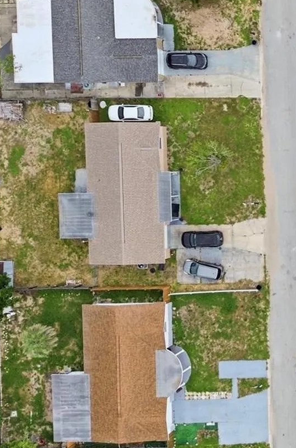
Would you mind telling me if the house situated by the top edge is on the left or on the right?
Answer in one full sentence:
It is on the left.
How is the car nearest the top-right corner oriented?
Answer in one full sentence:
I'd say the car nearest the top-right corner is aligned from side to side in the picture.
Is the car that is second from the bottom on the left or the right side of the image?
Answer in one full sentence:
It is on the right.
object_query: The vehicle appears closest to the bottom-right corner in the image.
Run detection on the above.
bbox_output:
[184,257,227,281]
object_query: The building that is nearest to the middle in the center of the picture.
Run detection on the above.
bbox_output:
[58,121,190,266]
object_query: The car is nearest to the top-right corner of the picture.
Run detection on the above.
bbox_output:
[166,50,210,70]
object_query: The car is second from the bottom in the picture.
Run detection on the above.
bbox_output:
[183,230,225,249]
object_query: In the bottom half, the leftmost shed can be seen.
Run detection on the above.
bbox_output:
[0,260,24,286]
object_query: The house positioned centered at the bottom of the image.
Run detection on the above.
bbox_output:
[52,302,193,446]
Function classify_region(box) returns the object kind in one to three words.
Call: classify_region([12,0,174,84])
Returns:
house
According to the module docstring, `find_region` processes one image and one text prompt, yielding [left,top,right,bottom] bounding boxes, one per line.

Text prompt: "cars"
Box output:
[184,257,227,281]
[166,50,210,70]
[183,230,225,249]
[110,103,156,122]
